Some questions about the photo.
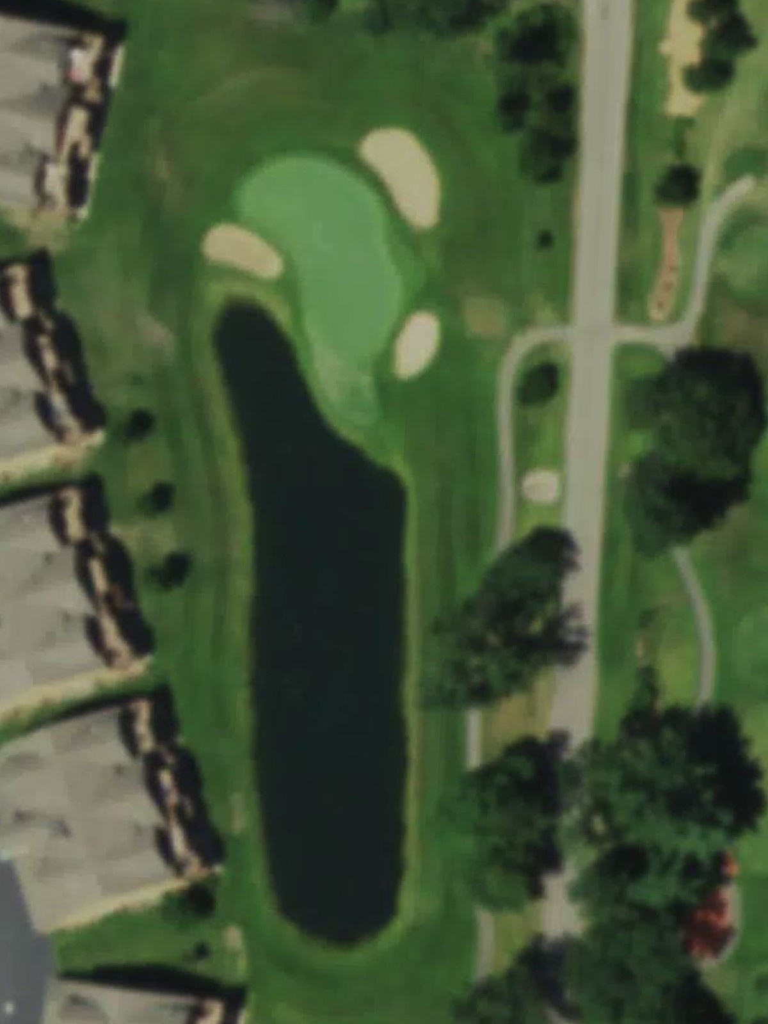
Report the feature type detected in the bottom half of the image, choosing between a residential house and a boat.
residential house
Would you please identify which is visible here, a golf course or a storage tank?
golf course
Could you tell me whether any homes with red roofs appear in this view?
No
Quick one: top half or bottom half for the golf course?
top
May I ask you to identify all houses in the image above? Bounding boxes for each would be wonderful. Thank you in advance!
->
[0,14,102,218]
[0,695,200,936]
[0,485,129,714]
[0,260,79,466]
[32,973,224,1024]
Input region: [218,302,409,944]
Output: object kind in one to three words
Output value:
pond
